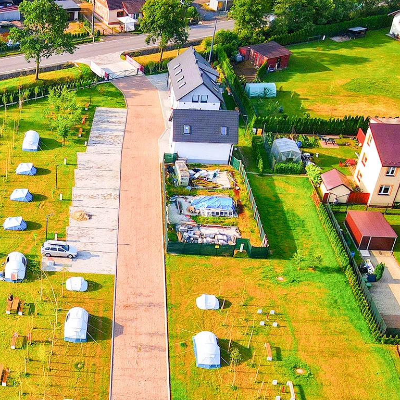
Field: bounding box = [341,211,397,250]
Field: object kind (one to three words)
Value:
building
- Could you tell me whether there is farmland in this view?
Yes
